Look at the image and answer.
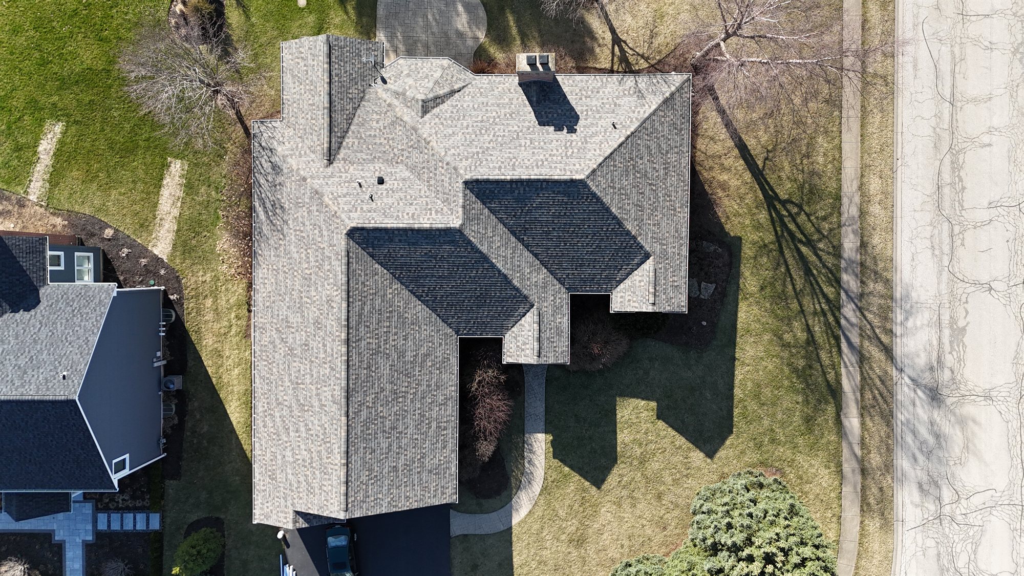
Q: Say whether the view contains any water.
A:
No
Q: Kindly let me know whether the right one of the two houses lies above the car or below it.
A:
above it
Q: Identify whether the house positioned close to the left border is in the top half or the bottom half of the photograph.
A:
bottom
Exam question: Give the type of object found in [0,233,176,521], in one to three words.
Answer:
house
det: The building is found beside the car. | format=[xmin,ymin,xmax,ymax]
[251,33,694,532]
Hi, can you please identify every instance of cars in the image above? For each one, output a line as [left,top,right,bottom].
[323,520,360,576]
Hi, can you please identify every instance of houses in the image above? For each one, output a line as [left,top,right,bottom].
[251,33,694,532]
[0,233,176,521]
